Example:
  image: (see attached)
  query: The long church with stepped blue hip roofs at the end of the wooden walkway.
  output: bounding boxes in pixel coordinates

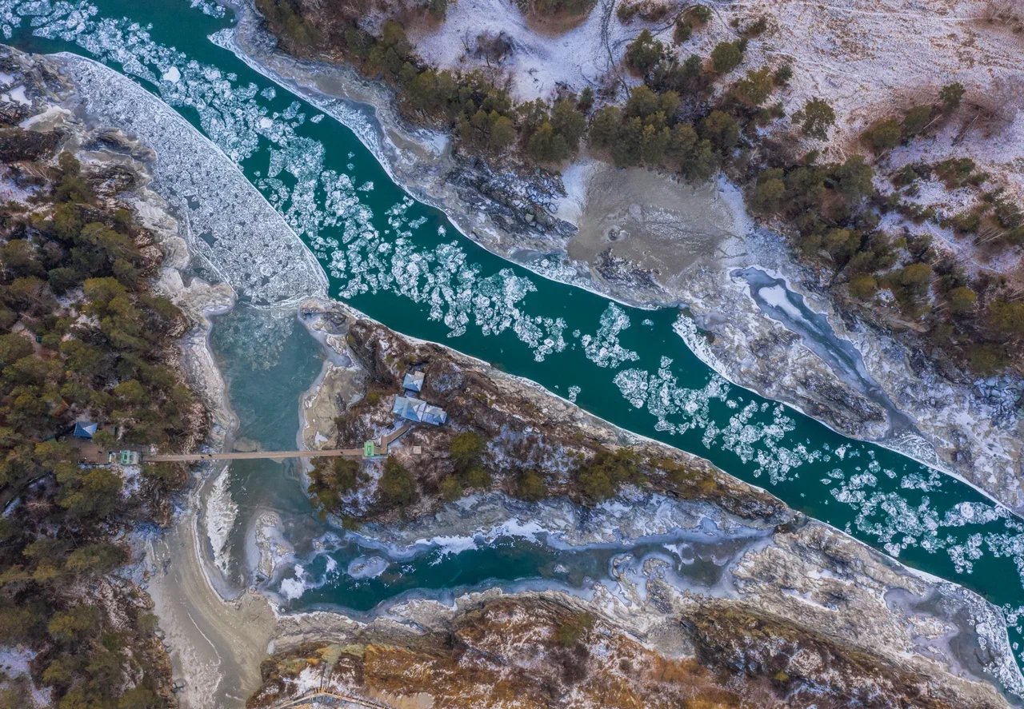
[393,397,449,429]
